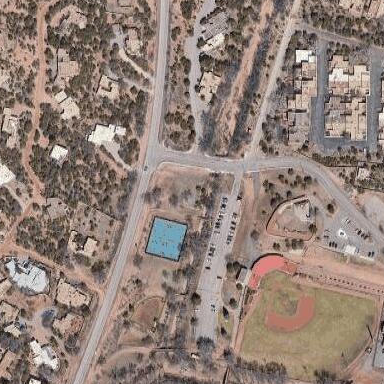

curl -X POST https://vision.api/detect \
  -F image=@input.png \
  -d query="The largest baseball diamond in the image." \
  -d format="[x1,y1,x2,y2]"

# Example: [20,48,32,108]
[235,269,379,382]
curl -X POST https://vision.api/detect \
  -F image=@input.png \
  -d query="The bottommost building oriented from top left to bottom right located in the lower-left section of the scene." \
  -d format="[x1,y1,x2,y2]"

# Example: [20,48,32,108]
[26,339,60,368]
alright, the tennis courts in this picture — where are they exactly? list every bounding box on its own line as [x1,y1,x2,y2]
[146,216,187,261]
